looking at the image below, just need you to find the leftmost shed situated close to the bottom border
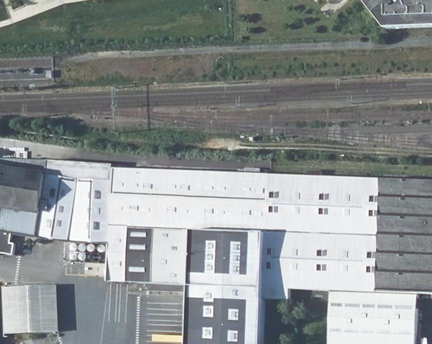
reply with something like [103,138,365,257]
[2,284,61,336]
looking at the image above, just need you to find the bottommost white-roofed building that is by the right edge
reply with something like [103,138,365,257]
[327,292,421,344]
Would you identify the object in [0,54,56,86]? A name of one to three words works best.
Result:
building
